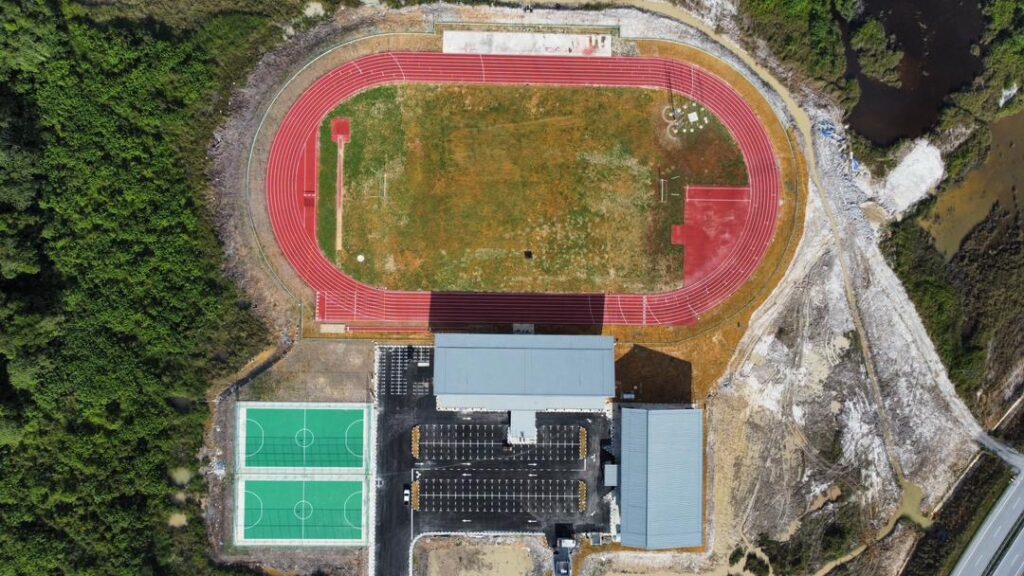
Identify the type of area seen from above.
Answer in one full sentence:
What you see here is a sports ground.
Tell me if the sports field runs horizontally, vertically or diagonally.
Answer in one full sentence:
The sports field is laid out horizontally.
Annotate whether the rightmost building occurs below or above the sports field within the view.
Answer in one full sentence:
Within the scene, the rightmost building can be found below the sports field.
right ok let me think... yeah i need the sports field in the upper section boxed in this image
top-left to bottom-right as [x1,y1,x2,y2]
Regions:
[317,82,750,298]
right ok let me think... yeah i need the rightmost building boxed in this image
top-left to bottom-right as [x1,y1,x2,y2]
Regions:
[618,405,705,550]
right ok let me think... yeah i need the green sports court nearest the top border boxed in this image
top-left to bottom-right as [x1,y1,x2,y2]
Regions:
[236,402,370,474]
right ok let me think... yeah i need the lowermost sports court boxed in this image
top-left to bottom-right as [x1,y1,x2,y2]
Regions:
[235,474,369,546]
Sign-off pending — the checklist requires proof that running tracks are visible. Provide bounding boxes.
[267,53,780,327]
